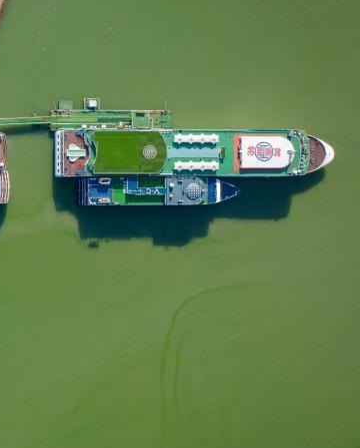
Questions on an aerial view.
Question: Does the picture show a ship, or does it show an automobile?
ship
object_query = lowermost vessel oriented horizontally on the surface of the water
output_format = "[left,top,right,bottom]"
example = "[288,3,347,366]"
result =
[78,177,239,206]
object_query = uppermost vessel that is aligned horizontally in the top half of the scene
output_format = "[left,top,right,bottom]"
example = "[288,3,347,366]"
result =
[52,130,333,177]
